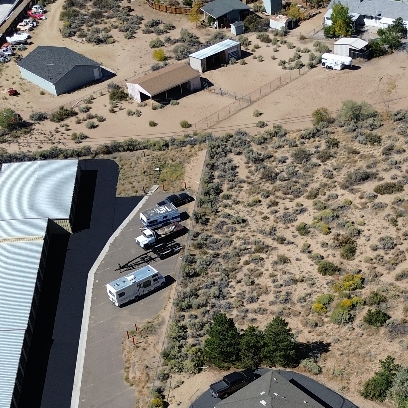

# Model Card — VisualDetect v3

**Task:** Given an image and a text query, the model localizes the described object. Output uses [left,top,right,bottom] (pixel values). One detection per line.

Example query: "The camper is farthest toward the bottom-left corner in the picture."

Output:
[105,268,170,309]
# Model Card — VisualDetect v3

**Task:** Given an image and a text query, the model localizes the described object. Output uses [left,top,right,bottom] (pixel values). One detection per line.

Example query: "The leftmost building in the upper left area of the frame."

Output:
[17,51,89,98]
